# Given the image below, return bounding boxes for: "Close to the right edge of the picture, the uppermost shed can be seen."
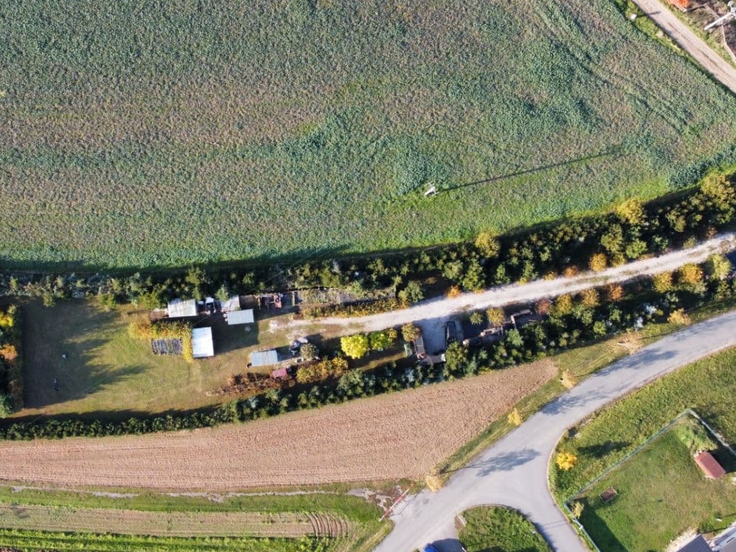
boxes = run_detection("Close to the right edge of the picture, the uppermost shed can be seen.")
[690,451,719,481]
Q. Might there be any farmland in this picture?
Yes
